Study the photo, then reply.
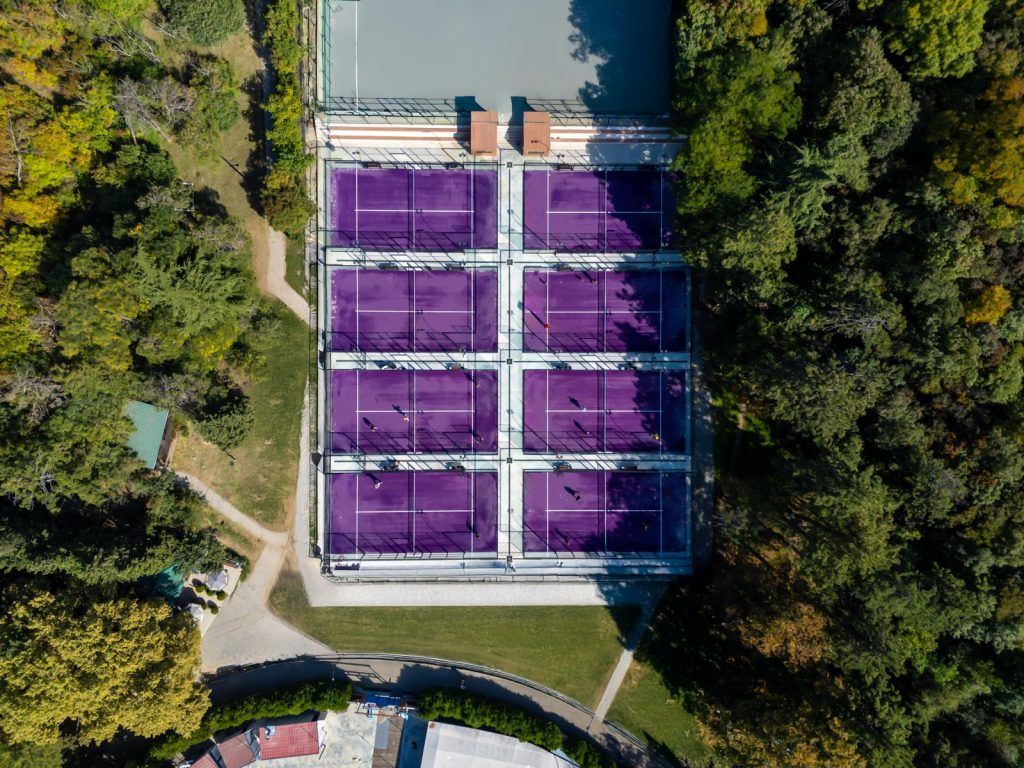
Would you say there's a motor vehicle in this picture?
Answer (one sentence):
No, no motor vehicle is visible in the scene.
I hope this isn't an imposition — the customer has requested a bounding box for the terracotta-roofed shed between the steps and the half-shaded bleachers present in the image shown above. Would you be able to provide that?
[523,111,551,158]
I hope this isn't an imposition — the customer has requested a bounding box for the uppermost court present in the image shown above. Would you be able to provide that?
[331,0,674,118]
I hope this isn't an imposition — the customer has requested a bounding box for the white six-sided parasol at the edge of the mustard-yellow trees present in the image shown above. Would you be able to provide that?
[190,602,208,618]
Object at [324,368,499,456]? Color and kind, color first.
purple sports court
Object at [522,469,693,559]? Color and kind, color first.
purple sports court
